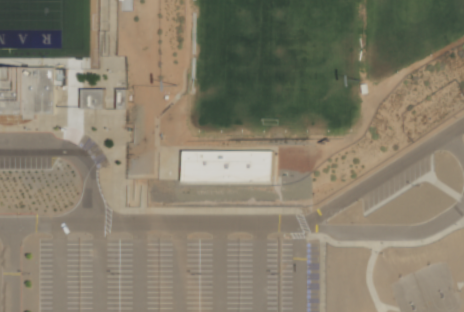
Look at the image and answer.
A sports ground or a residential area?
sports ground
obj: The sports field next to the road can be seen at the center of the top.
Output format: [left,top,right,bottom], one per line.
[184,0,364,138]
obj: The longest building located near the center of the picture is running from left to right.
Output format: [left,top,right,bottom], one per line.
[182,150,275,182]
